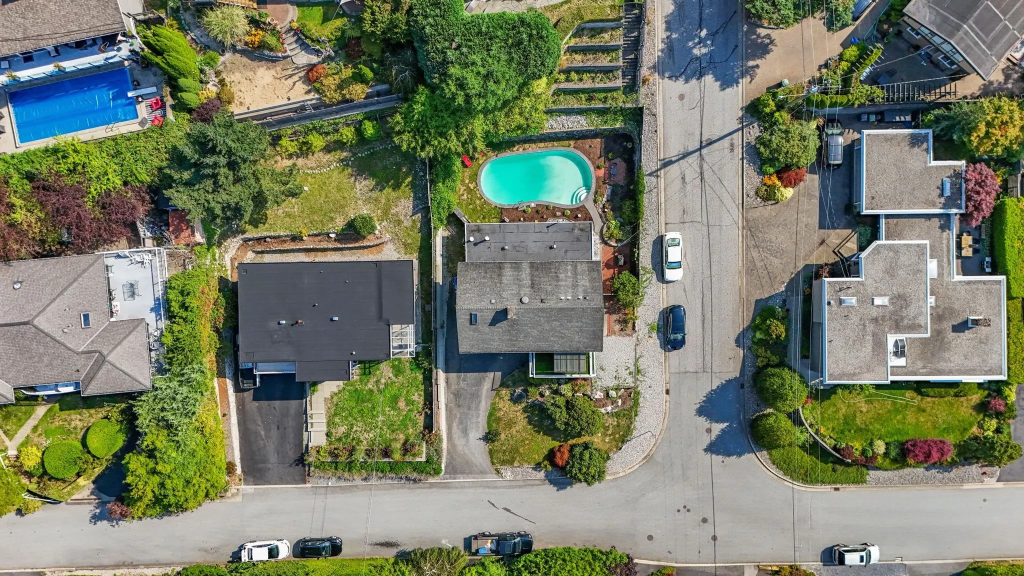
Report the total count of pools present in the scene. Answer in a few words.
two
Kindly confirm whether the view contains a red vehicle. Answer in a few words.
No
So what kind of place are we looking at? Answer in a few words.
residential area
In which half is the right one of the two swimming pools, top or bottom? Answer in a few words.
top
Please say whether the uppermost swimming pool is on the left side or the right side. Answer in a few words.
left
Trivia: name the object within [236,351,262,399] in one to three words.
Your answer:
truck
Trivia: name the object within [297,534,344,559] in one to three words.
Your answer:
car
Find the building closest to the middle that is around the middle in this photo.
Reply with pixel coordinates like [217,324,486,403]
[455,223,604,354]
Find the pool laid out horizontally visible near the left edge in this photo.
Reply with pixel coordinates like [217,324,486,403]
[4,65,141,149]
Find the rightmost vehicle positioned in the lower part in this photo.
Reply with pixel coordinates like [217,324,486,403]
[831,540,880,566]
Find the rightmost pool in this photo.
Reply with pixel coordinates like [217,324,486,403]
[477,146,596,209]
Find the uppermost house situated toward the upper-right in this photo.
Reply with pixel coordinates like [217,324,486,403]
[889,0,1024,86]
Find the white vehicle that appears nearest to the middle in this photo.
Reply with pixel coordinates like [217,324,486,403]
[662,231,685,283]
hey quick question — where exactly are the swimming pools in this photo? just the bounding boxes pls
[477,146,596,209]
[4,65,141,149]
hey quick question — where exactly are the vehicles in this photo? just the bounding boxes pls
[831,540,880,566]
[474,530,531,556]
[243,537,291,561]
[236,351,262,399]
[664,305,687,351]
[838,0,880,33]
[818,119,846,171]
[297,534,344,559]
[662,231,685,283]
